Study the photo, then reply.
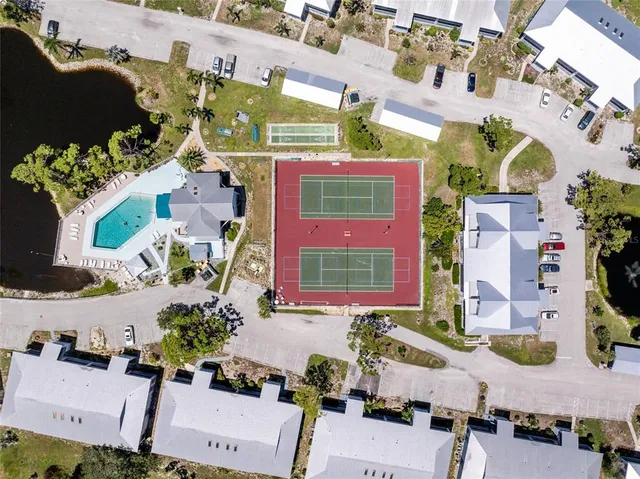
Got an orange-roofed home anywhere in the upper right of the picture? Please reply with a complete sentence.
No, I see no orange-roofed home in the upper right of the picture.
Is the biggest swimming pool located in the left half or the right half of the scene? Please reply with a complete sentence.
It is on the left.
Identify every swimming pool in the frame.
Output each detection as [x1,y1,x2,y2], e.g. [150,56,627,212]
[157,192,171,218]
[92,194,156,250]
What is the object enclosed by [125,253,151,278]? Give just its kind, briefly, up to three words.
building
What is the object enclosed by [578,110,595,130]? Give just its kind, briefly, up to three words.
car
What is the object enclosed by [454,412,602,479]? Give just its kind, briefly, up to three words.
house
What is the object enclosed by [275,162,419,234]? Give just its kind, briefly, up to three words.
tennis court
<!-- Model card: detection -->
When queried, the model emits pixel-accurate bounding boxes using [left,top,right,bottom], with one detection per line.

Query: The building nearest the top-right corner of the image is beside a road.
[518,0,640,114]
